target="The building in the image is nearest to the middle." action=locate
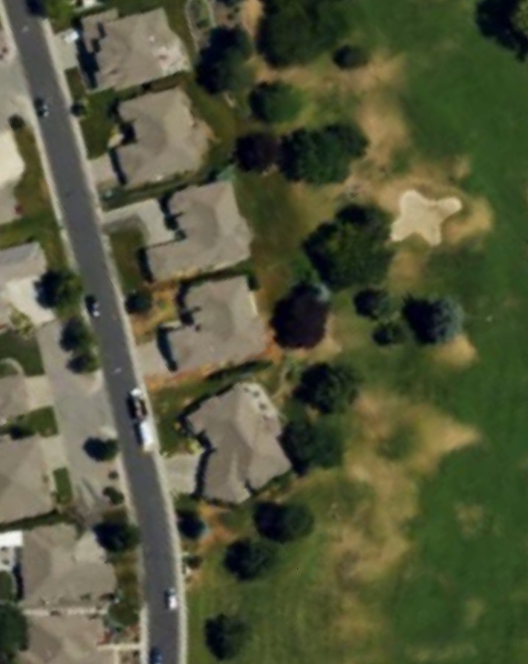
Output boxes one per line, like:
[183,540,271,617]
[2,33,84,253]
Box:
[159,277,265,371]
